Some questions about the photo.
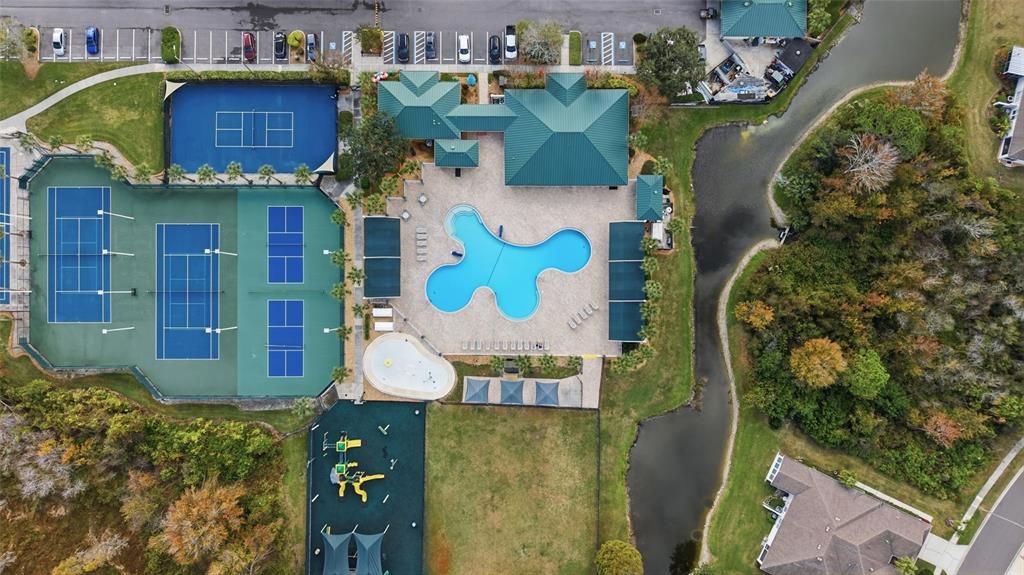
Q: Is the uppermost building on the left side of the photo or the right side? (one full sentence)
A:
The uppermost building appears in the right half of the scene.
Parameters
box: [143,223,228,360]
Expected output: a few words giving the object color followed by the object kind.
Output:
blue tennis court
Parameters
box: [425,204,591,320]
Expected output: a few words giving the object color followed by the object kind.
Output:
blue swimming pool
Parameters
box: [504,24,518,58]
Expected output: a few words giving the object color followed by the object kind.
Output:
white vehicle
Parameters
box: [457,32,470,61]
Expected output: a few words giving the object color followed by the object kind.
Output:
white vehicle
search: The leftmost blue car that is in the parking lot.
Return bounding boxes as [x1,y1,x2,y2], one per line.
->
[83,25,98,54]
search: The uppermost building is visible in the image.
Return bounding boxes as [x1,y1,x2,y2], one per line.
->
[717,0,807,42]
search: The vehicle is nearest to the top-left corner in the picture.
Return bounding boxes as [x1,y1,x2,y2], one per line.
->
[49,26,64,55]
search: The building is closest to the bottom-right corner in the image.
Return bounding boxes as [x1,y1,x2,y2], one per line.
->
[751,451,932,575]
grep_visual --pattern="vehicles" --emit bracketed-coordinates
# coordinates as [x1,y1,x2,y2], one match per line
[771,69,790,92]
[273,30,286,58]
[396,30,409,61]
[49,26,64,55]
[457,32,470,61]
[241,30,255,59]
[488,33,501,63]
[306,30,319,59]
[504,24,518,58]
[83,25,98,54]
[425,29,437,58]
